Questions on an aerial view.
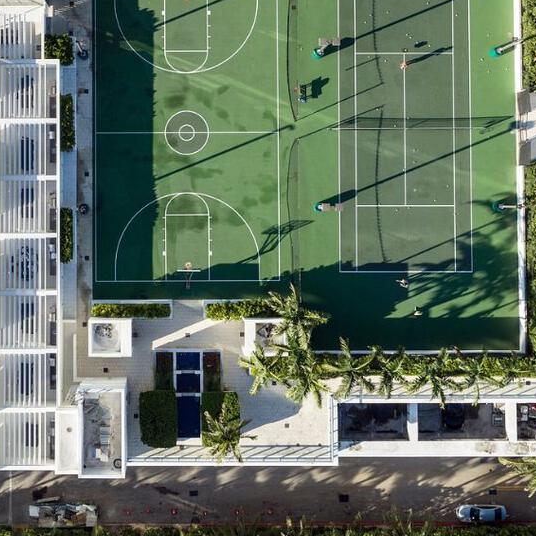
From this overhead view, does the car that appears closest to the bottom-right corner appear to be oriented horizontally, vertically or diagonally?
horizontally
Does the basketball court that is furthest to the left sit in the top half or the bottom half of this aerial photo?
top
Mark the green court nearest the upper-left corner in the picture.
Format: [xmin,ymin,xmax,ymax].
[92,0,297,300]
